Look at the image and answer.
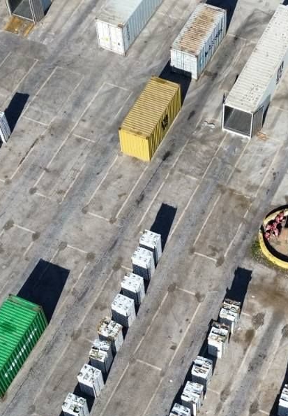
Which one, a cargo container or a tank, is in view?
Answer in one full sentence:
There is a cargo container in the scene.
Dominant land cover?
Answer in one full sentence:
What you mostly see from above here is paved ground.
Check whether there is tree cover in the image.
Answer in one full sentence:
No, there's no tree cover in this view.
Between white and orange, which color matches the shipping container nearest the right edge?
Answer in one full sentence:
The color of the shipping container nearest the right edge is white.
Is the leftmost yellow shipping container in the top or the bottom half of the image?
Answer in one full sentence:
It is in the top half that the leftmost yellow shipping container appears.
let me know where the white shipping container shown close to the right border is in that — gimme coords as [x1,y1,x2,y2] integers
[223,3,288,138]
